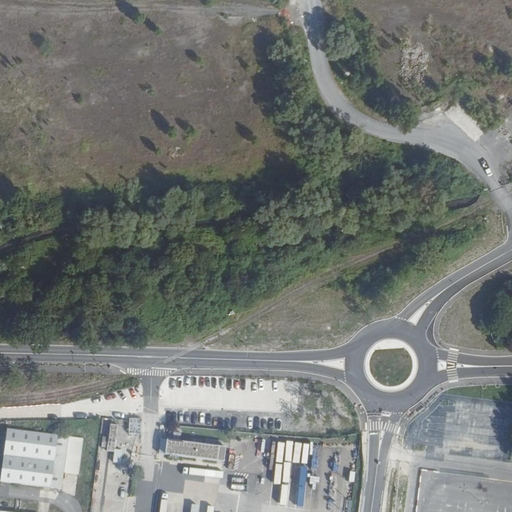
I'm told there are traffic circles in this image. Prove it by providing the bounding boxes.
[337,292,459,418]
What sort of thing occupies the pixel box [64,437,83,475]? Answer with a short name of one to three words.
shed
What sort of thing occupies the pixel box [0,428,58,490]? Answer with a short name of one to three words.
building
